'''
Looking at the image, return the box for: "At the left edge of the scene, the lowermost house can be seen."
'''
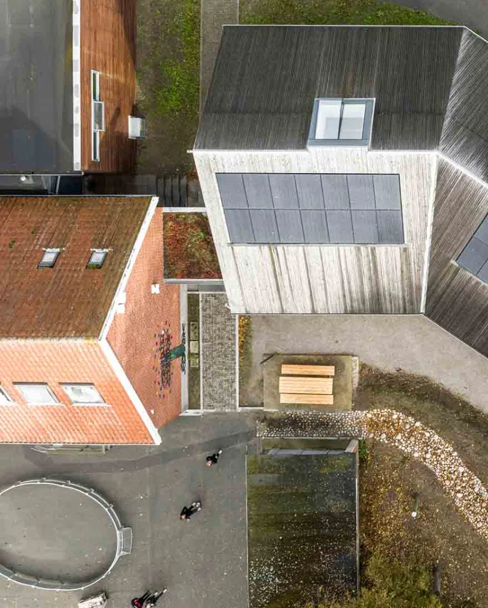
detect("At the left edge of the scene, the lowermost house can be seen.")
[0,193,187,448]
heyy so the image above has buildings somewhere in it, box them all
[0,0,137,177]
[0,193,187,448]
[187,25,488,359]
[247,435,362,608]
